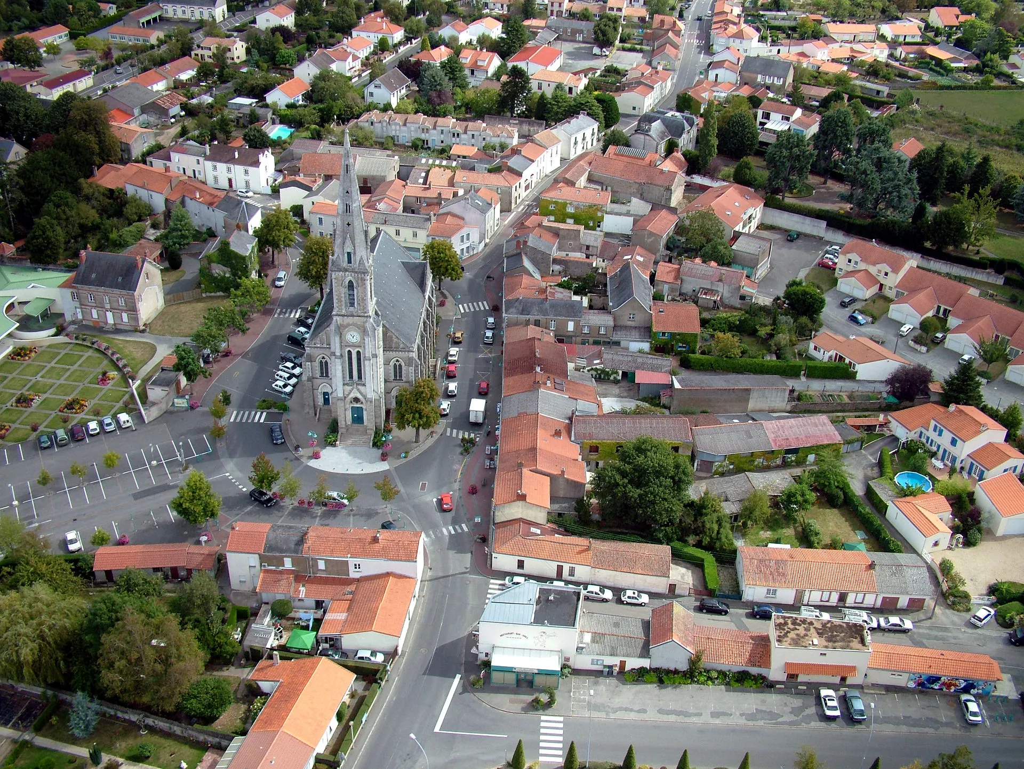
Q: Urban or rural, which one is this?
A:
urban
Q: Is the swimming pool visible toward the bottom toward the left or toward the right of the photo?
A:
right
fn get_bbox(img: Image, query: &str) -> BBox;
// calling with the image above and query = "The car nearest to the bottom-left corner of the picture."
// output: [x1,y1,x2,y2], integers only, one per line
[65,530,81,548]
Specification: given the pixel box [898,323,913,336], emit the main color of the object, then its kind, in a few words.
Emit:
white vehicle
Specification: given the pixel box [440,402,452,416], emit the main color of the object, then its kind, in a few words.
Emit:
white vehicle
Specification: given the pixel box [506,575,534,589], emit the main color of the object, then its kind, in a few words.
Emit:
white car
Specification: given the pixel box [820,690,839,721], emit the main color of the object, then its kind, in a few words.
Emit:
white car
